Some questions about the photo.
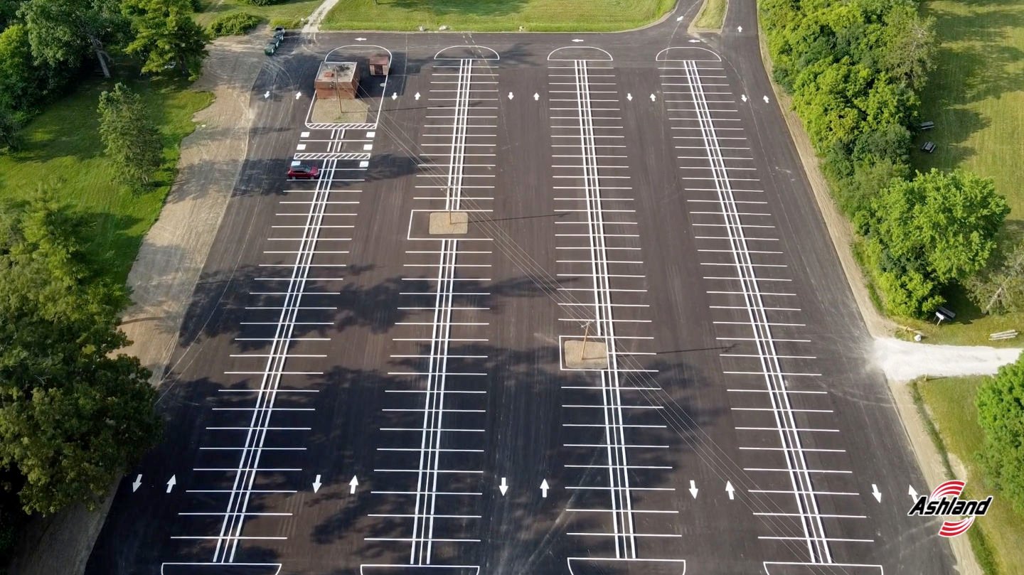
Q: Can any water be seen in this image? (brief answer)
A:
No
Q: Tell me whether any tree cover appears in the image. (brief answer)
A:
Yes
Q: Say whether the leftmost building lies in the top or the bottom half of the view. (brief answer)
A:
top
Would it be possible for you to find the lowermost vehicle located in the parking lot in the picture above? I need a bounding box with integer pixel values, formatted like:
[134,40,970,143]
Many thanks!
[288,164,319,179]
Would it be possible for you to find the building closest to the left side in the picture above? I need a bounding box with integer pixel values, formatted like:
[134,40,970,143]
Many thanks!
[315,61,358,98]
